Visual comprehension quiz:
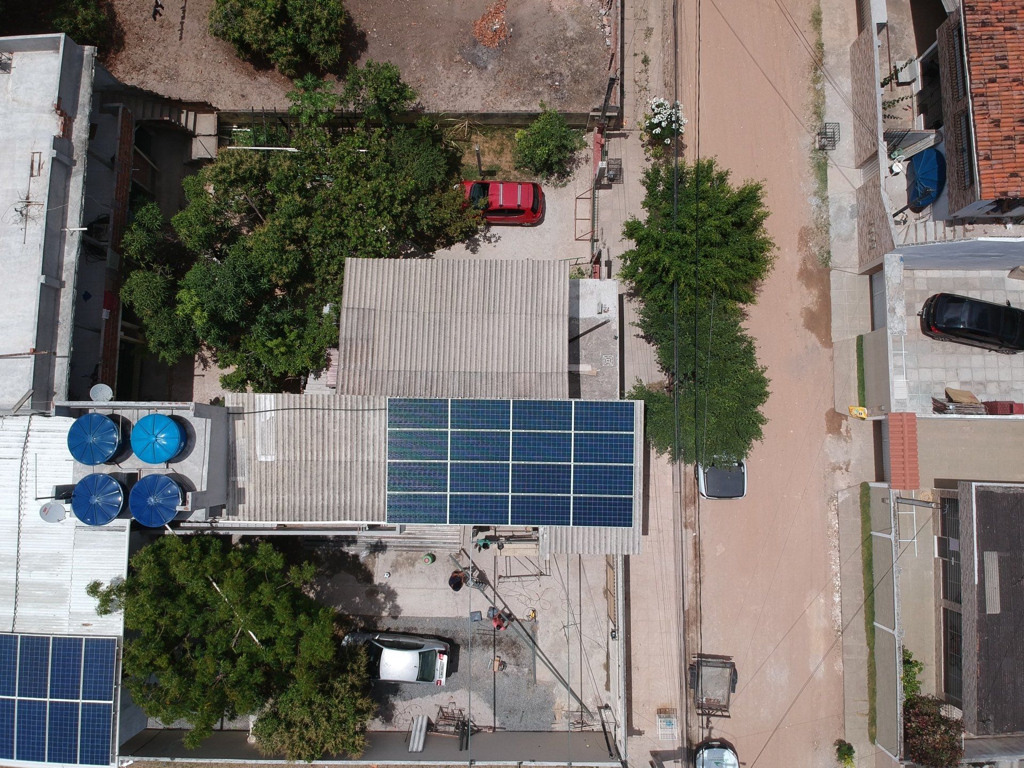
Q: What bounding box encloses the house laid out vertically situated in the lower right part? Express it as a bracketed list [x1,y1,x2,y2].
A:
[918,479,1024,732]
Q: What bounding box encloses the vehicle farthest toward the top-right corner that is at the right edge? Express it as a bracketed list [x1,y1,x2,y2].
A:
[918,293,1024,361]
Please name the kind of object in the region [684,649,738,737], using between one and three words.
trailer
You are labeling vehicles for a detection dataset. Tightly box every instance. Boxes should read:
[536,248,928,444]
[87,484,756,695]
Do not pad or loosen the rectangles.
[337,622,456,683]
[692,451,743,496]
[691,738,744,768]
[445,176,549,230]
[918,293,1024,361]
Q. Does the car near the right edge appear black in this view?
Yes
